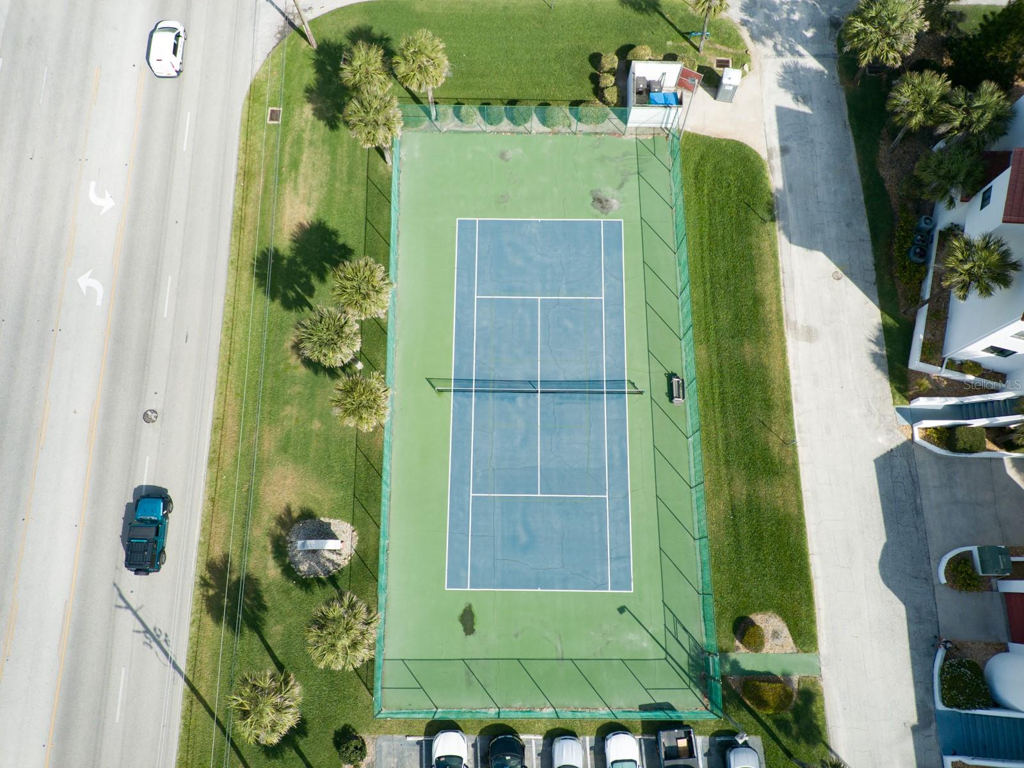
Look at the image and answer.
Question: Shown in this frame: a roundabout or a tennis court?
tennis court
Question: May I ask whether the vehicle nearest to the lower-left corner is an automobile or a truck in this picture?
automobile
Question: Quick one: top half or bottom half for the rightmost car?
bottom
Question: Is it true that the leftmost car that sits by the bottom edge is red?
No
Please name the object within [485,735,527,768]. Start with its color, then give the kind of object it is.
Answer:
black car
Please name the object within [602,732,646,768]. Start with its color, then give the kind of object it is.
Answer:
white car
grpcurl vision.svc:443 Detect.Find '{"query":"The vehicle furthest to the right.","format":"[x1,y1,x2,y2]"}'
[724,742,762,768]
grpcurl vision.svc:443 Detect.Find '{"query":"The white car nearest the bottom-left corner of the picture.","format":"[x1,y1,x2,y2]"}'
[427,731,470,768]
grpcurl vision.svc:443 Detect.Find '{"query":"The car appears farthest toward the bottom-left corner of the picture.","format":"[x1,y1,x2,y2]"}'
[119,497,170,576]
